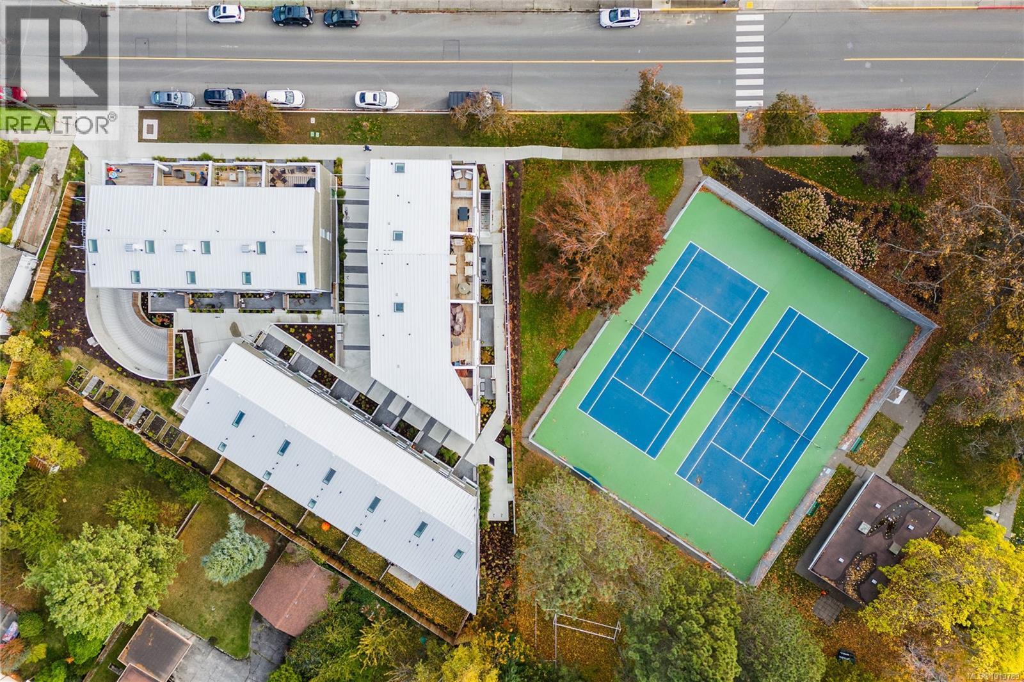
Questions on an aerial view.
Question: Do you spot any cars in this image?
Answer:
Yes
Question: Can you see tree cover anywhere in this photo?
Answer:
Yes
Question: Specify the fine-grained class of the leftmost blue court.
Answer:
tennis court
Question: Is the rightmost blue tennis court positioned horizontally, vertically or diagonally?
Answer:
diagonally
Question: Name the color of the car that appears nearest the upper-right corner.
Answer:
white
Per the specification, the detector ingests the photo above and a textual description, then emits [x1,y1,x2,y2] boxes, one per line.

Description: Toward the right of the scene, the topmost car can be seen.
[599,7,641,29]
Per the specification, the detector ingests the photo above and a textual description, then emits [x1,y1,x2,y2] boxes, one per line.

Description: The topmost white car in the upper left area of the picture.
[209,4,247,25]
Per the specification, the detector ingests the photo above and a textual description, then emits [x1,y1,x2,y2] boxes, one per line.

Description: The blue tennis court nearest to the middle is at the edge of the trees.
[580,241,766,459]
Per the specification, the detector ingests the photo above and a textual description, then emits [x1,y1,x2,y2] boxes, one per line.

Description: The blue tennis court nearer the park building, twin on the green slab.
[678,306,866,526]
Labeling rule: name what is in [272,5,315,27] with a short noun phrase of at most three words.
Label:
car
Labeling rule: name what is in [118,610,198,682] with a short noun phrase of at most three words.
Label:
building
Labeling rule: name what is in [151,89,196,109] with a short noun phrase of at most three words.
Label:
car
